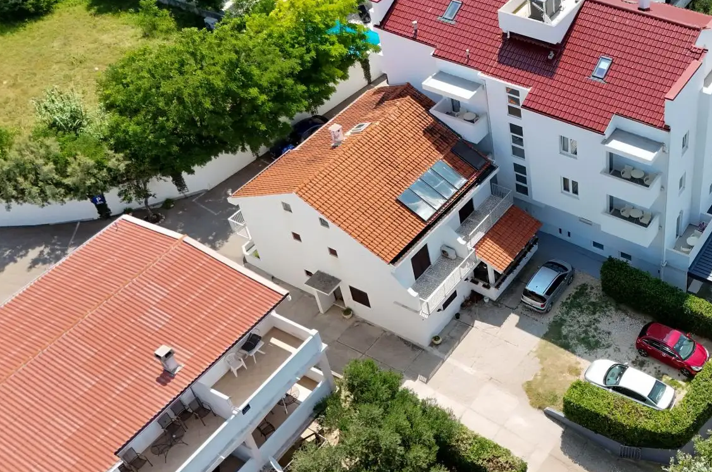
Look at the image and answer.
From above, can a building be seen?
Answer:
Yes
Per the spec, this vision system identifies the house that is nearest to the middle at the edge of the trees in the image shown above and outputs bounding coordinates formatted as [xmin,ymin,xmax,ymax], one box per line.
[215,85,548,339]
